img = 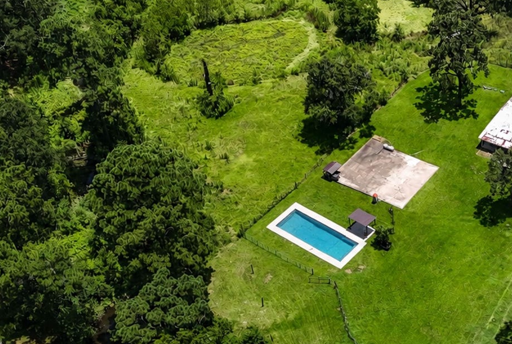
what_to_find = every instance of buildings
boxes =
[347,208,377,239]
[473,98,512,159]
[322,162,342,184]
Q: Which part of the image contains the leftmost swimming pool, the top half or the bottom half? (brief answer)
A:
bottom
